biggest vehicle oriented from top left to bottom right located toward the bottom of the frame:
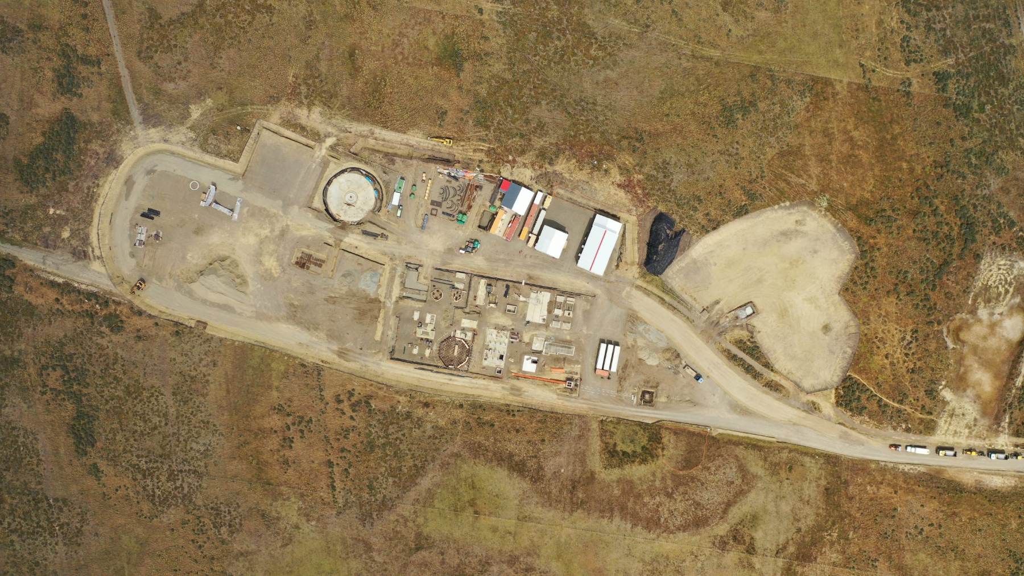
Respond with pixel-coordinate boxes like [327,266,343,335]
[684,365,704,383]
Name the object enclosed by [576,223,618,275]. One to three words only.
shed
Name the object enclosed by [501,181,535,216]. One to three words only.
building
